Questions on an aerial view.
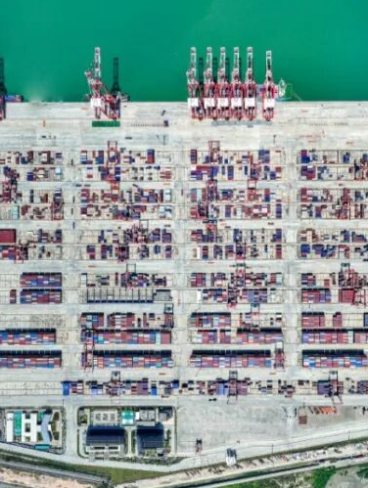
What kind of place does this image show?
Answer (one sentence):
It's a port.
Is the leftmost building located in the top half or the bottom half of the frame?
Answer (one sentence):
The leftmost building is in the bottom half of the image.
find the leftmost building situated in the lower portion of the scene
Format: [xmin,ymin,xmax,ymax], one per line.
[21,410,41,443]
